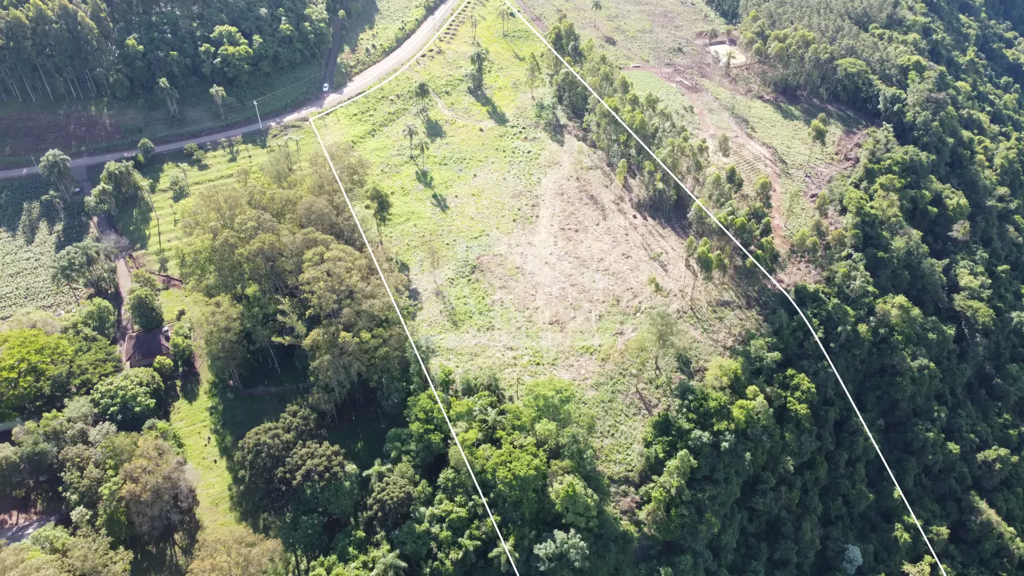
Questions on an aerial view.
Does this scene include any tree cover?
Yes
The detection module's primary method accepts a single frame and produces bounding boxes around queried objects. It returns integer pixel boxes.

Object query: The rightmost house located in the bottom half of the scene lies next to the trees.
[125,329,177,377]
